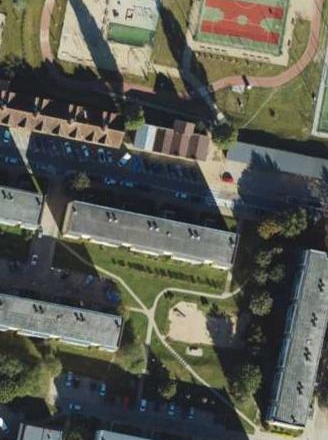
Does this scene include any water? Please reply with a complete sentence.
No, there's no water in this view.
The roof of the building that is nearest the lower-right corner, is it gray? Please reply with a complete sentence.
Yes, the roof of the building that is nearest the lower-right corner appears gray.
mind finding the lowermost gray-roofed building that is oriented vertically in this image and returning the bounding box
[270,249,328,426]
